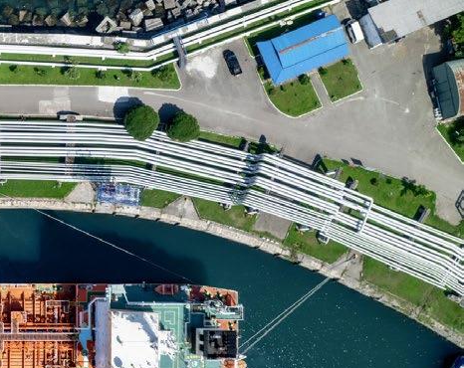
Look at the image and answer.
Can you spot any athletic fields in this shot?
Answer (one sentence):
No, I can't see a single athletic field in this photo.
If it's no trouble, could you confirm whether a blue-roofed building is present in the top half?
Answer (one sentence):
Yes, a blue-roofed building is visible in the top half.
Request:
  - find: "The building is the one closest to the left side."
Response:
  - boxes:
[251,13,350,86]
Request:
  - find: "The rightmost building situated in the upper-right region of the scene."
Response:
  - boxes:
[431,63,464,116]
